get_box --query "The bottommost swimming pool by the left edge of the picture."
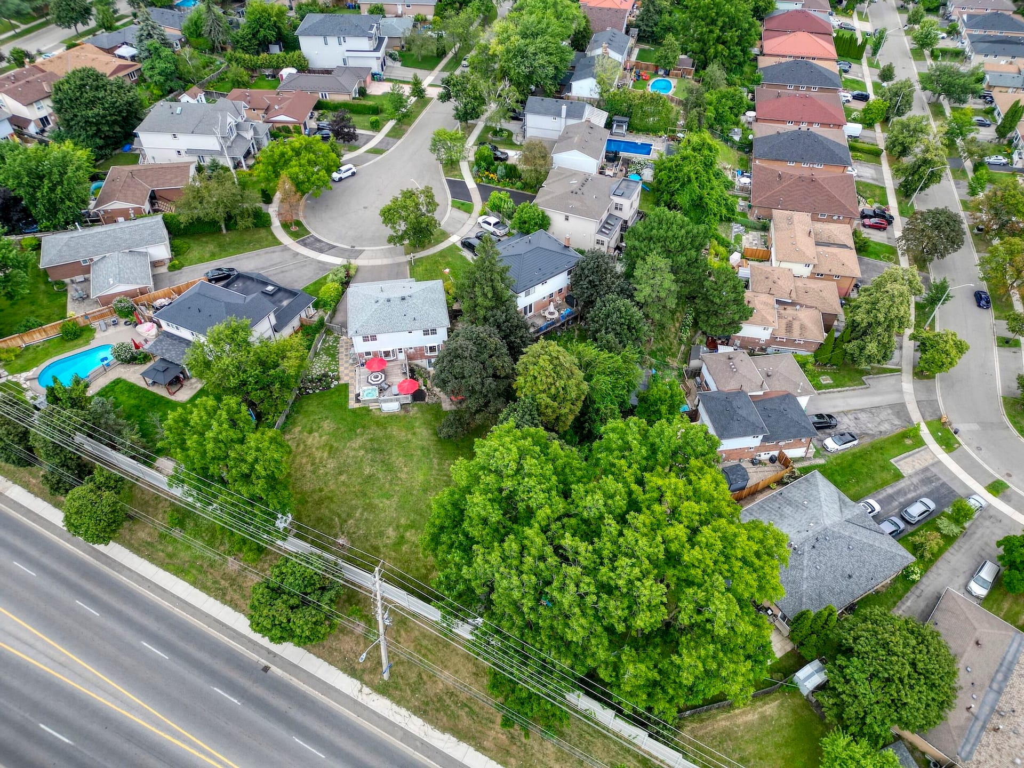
[35,342,117,390]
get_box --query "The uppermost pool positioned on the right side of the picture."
[649,77,673,92]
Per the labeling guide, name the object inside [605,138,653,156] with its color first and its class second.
blue swimming pool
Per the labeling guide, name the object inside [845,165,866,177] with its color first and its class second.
white vehicle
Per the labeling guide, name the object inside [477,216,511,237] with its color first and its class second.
white truck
